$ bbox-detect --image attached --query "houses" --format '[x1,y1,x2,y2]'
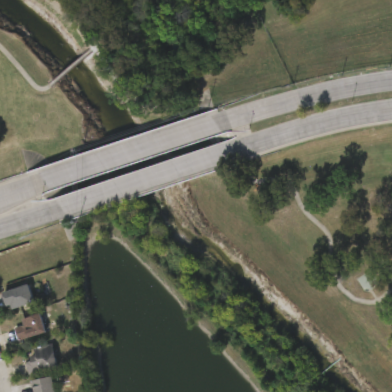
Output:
[12,314,46,342]
[31,379,54,392]
[24,345,56,375]
[1,284,31,312]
